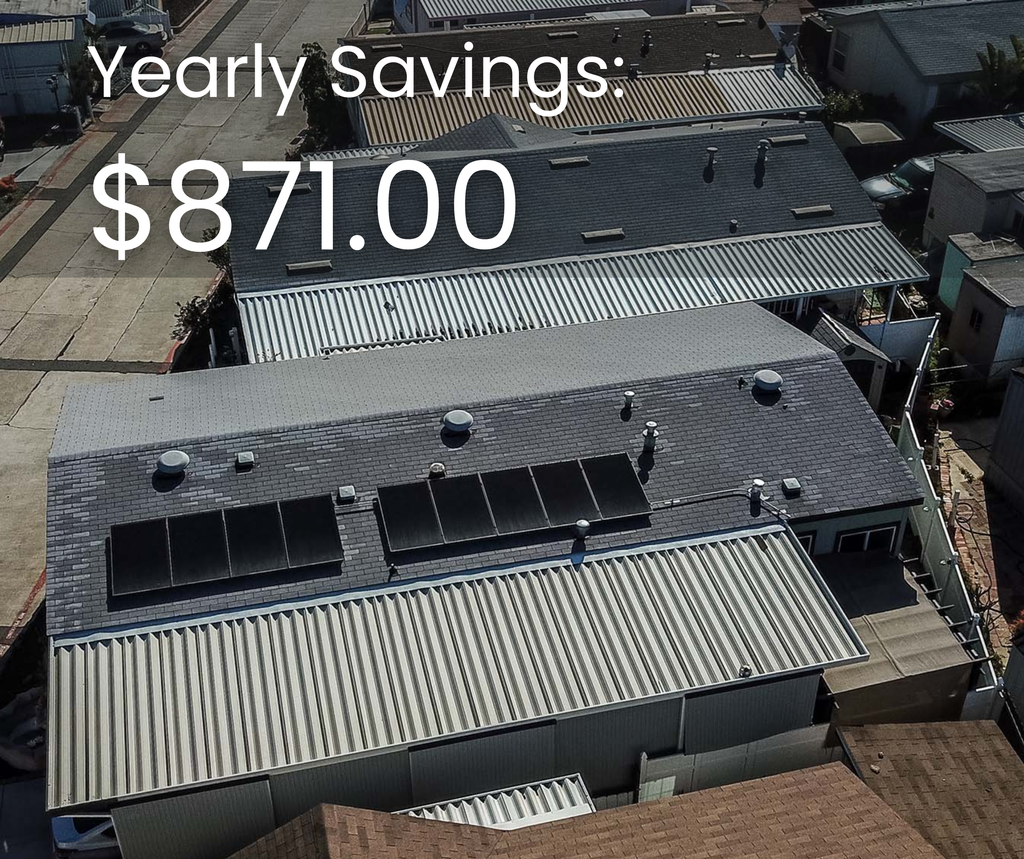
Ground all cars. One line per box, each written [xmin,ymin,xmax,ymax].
[858,152,966,222]
[53,757,318,859]
[84,7,179,48]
